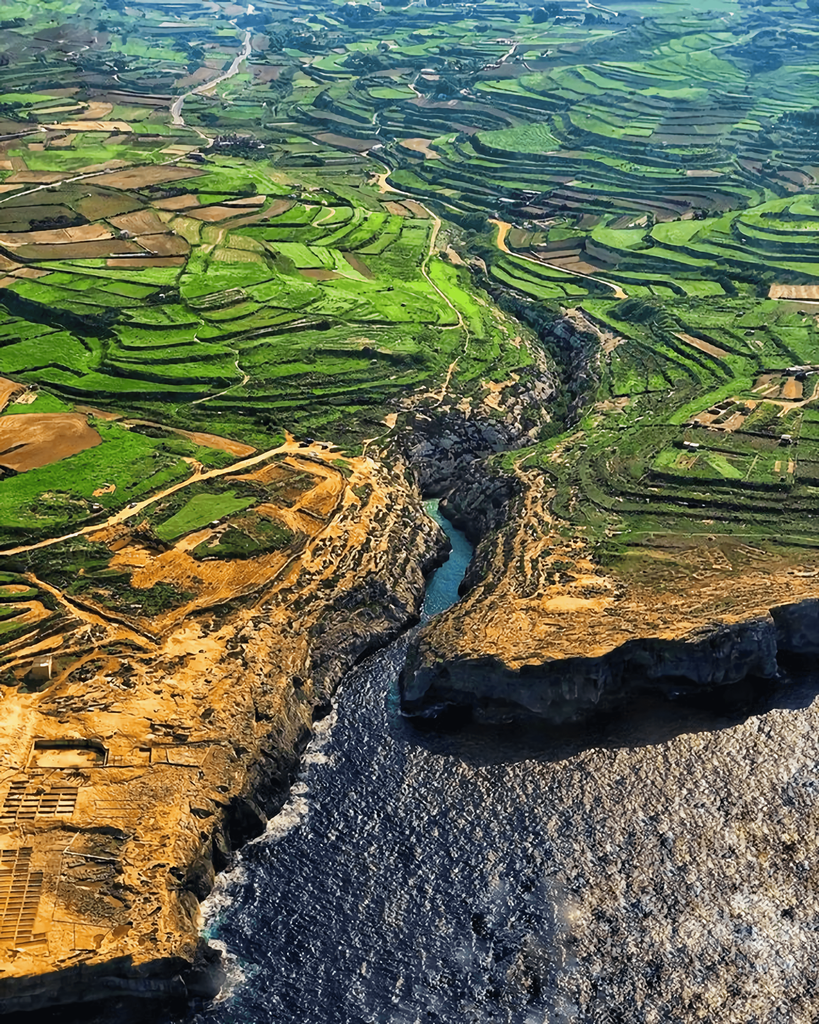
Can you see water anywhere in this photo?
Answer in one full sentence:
Yes, there's water in this view.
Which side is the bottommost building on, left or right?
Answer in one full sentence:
It is on the left.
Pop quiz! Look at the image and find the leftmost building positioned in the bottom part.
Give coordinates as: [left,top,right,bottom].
[27,653,53,676]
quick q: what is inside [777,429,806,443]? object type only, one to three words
shed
